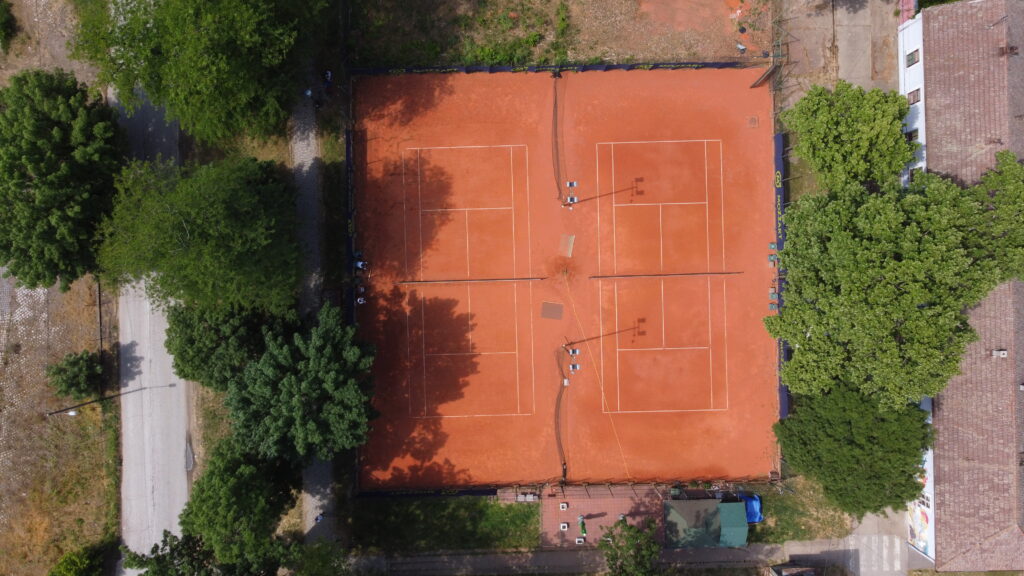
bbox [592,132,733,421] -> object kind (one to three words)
tennis court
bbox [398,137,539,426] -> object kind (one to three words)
tennis court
